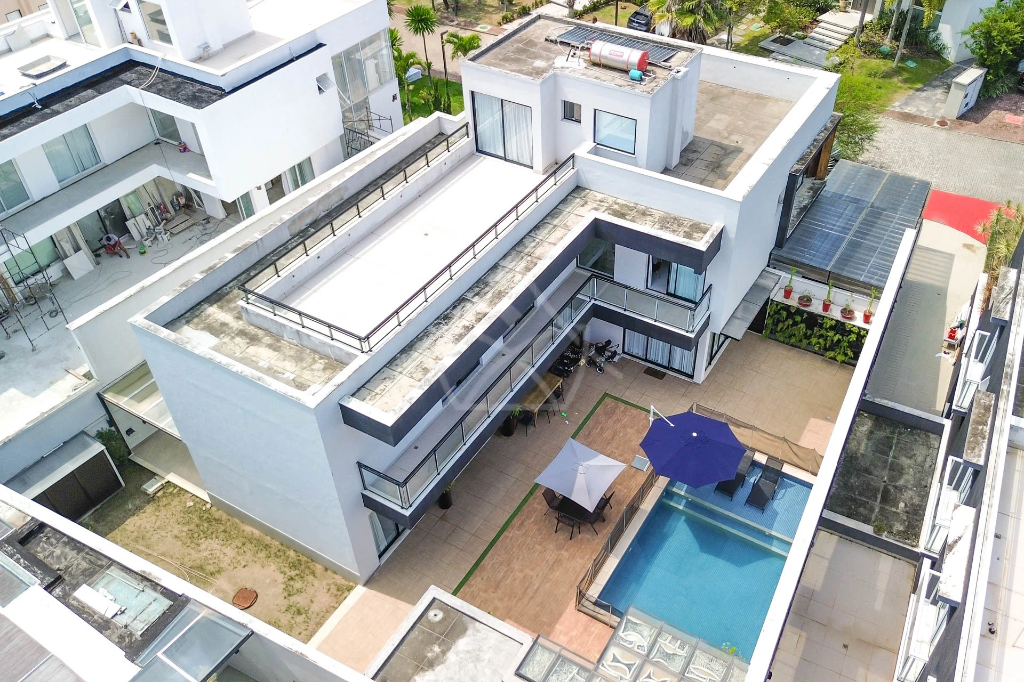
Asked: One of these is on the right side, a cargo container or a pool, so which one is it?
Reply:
pool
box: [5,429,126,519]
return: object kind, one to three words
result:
shed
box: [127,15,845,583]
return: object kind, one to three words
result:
house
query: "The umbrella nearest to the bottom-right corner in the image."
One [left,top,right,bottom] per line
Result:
[631,400,747,489]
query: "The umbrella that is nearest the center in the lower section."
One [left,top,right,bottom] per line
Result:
[535,439,625,513]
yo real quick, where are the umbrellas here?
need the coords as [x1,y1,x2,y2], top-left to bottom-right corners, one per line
[631,400,747,489]
[535,439,625,513]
